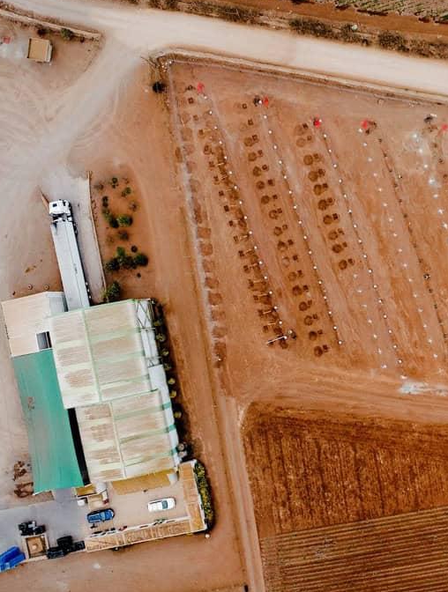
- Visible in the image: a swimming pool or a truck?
truck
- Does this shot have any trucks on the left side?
Yes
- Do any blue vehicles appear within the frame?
Yes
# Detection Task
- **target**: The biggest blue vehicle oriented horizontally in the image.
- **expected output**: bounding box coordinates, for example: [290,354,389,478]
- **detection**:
[83,509,115,527]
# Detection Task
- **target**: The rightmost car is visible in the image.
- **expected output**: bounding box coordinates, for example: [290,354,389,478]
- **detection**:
[145,497,174,514]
